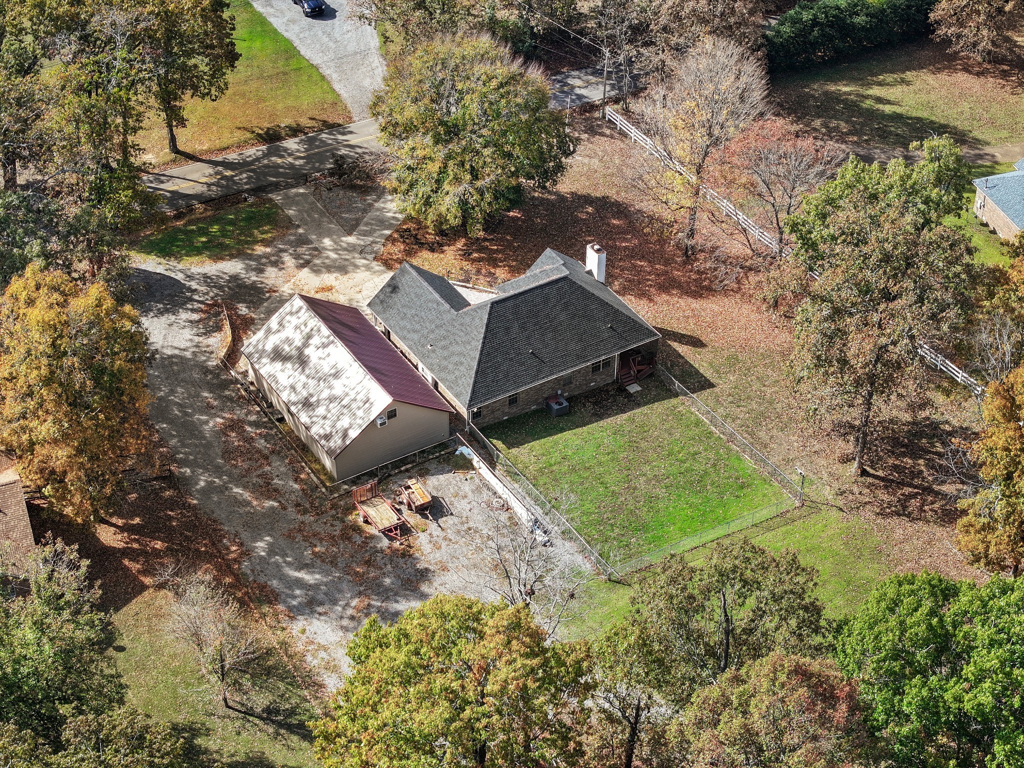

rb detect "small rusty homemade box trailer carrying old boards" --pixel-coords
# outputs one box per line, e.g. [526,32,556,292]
[398,473,434,522]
